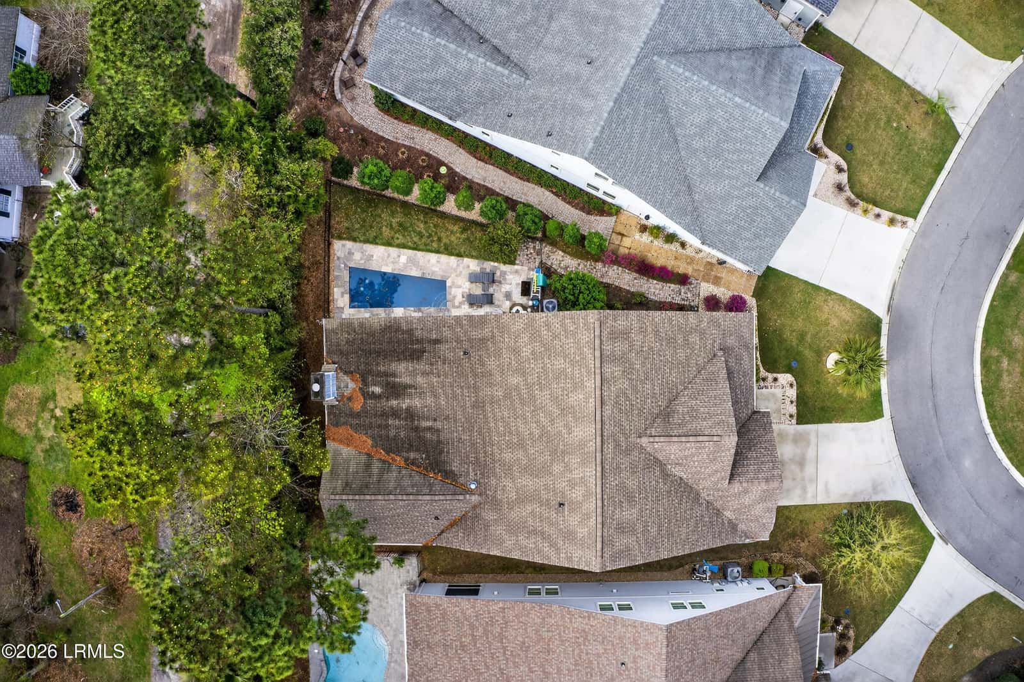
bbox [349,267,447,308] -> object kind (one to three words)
swimming pool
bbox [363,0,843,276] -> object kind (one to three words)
house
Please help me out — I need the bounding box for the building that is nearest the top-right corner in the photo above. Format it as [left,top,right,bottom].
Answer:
[765,0,839,31]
